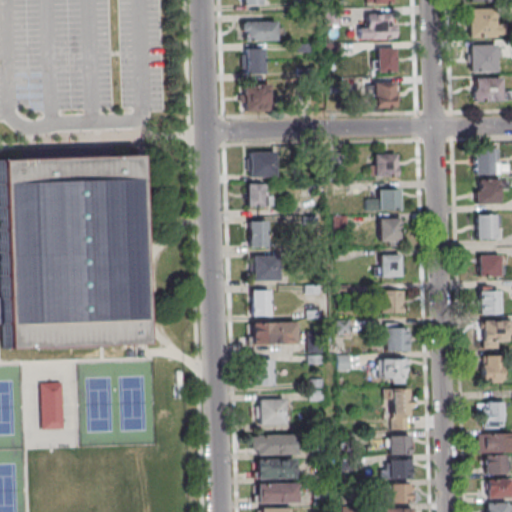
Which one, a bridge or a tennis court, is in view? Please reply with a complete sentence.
Of the two, only a tennis court appears.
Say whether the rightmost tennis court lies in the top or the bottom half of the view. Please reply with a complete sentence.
The rightmost tennis court is in the bottom half of the image.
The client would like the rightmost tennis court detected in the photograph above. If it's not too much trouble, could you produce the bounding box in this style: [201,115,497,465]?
[116,361,154,444]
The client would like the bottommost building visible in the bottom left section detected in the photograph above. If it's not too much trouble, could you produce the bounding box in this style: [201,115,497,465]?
[39,382,64,430]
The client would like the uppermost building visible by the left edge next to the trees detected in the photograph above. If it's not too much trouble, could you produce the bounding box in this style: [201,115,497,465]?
[0,154,154,350]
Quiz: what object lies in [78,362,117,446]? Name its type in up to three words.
tennis court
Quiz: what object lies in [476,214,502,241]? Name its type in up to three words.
house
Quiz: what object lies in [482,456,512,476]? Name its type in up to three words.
house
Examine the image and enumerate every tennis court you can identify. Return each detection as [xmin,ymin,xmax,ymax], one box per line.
[116,361,154,444]
[78,362,117,446]
[0,449,24,512]
[0,366,22,448]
